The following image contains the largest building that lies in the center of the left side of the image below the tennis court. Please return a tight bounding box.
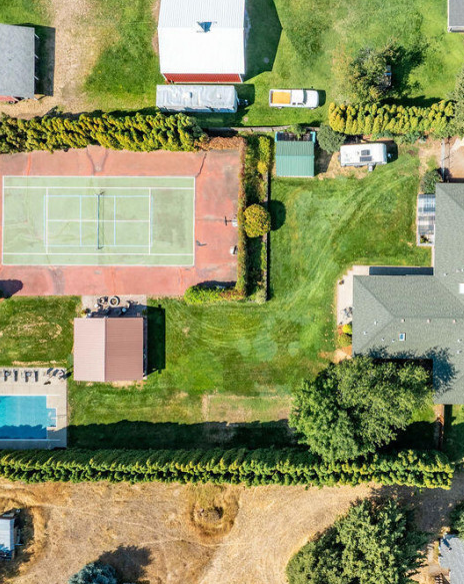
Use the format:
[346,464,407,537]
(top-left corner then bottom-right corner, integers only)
[74,318,147,382]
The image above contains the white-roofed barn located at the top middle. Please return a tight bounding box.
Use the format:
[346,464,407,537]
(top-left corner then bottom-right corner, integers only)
[156,0,245,81]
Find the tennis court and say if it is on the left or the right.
left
